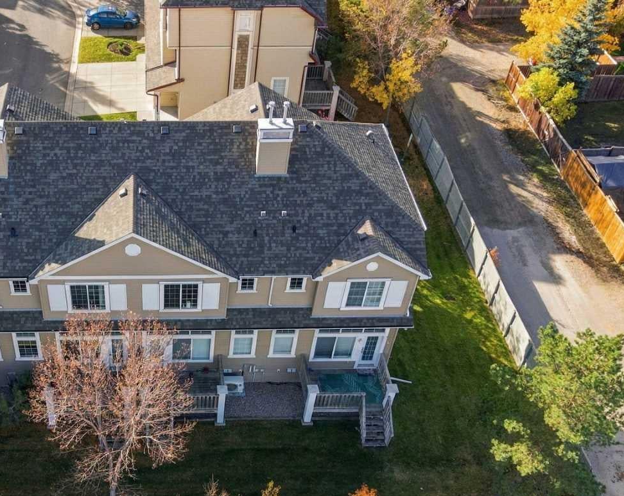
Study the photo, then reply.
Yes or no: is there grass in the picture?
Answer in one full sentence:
Yes, grass shows up in the scene.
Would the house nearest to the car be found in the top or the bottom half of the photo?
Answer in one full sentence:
Seen from above, the house nearest to the car lies in the top half of the view.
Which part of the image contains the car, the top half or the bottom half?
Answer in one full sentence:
It is in the top half that the car appears.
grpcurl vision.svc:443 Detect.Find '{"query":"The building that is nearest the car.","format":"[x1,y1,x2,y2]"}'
[141,0,324,120]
